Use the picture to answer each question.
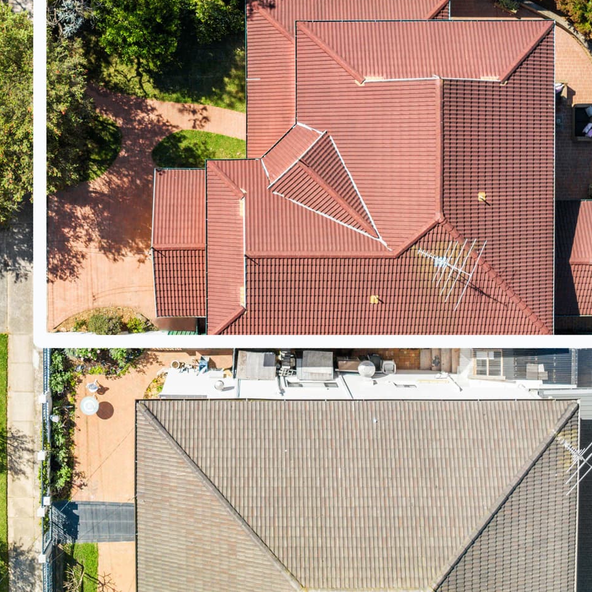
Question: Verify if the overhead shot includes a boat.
No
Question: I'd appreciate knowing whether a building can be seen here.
Yes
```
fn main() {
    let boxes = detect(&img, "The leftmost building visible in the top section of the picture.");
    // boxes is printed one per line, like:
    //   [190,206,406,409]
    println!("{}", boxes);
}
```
[148,0,558,344]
